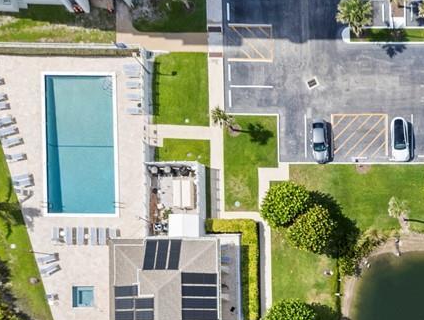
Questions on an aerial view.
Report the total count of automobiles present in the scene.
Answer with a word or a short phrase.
two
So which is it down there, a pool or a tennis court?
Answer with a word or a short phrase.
pool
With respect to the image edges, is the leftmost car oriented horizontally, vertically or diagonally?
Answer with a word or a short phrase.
vertically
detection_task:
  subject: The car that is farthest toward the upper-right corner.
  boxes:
[390,118,411,162]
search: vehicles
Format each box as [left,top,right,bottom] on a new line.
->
[390,118,411,162]
[310,120,330,164]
